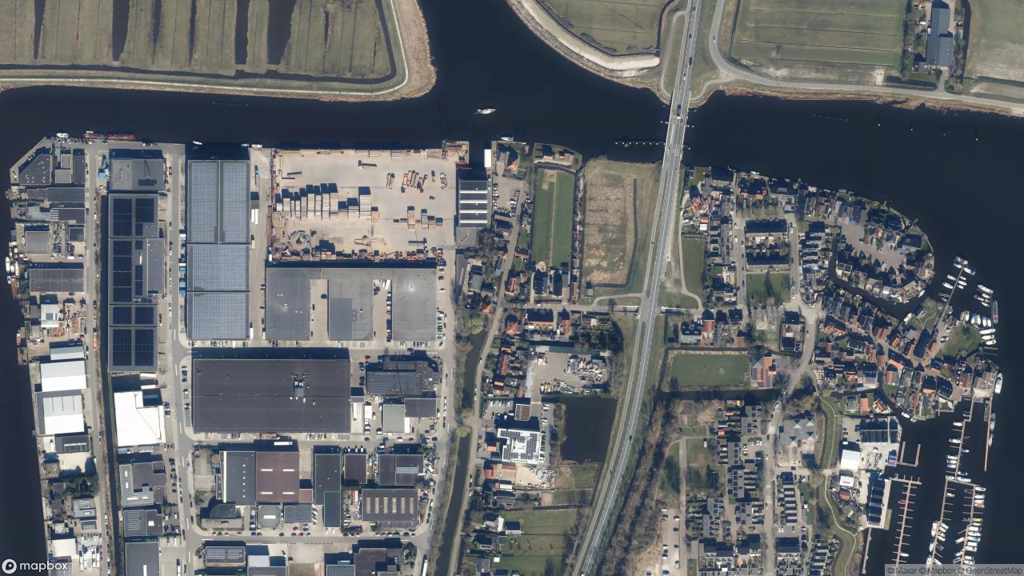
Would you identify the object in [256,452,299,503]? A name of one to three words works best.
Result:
building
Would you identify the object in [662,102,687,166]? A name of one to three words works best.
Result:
bridge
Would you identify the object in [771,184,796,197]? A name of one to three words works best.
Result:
house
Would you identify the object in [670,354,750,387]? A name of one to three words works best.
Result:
sports field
